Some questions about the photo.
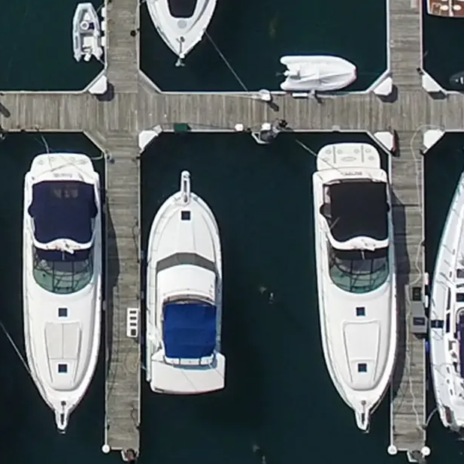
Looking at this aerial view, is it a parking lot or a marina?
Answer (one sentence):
The picture captures a marina.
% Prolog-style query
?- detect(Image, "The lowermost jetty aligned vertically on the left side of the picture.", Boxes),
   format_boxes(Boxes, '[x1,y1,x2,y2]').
[83,130,161,458]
